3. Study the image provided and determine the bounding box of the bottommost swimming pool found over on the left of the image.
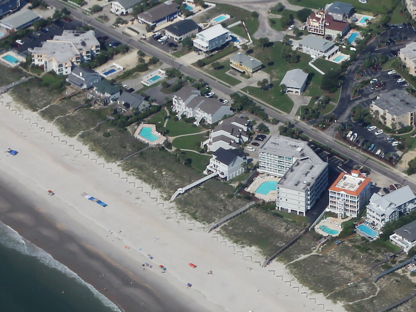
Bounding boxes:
[135,122,166,145]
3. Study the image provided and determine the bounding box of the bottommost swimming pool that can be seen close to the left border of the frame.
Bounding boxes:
[0,50,26,65]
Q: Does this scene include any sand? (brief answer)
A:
Yes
